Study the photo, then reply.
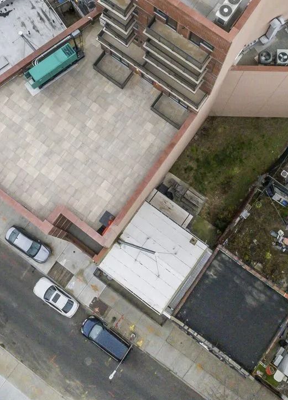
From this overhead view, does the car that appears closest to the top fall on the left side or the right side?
left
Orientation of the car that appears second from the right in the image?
diagonally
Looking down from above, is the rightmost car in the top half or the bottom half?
bottom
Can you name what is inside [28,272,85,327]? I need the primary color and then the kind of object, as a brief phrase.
white car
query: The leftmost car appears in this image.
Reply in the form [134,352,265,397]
[0,220,56,269]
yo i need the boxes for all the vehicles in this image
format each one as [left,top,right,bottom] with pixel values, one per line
[75,311,137,371]
[28,272,85,327]
[0,220,56,269]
